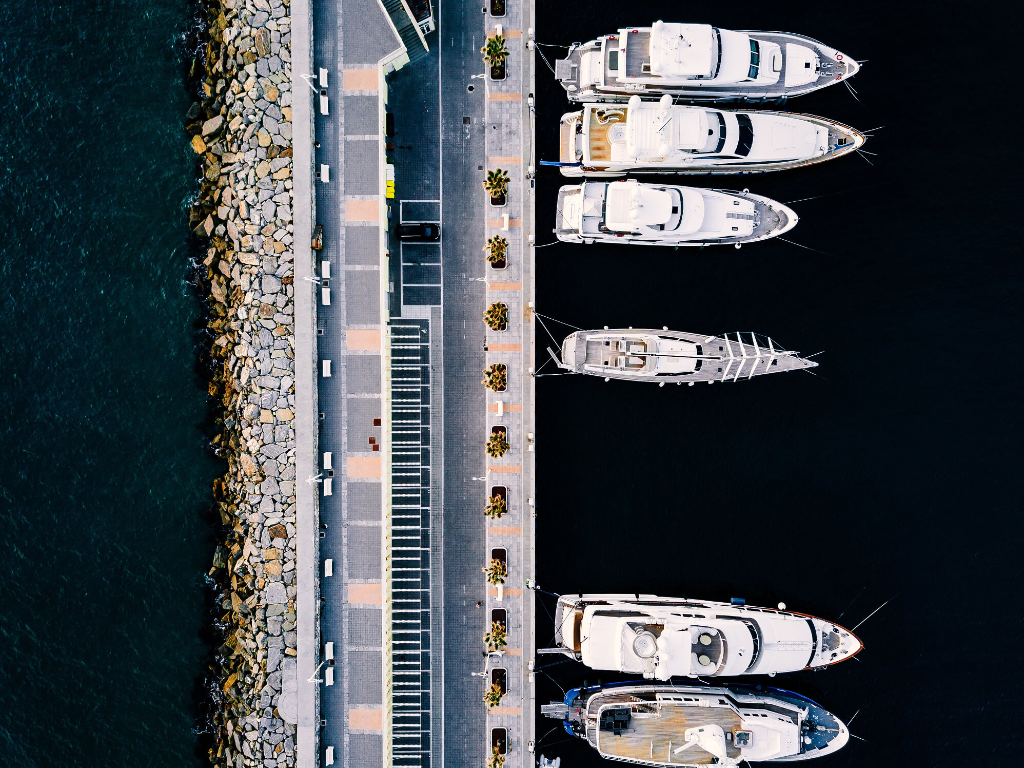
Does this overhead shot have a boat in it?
Yes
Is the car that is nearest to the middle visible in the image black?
Yes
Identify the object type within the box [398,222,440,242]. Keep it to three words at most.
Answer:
car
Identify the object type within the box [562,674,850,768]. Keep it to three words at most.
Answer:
vessel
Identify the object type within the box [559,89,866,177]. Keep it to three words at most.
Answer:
boat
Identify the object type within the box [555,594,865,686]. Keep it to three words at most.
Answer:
boat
